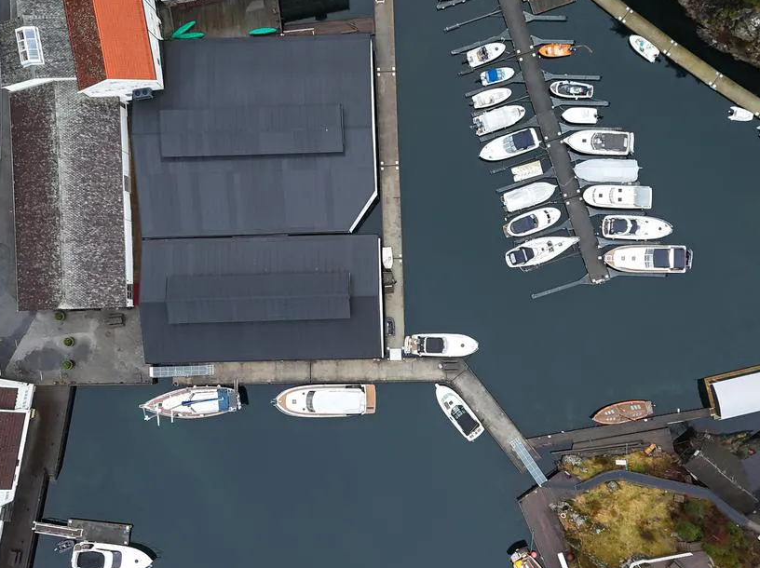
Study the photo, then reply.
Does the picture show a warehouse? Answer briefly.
Yes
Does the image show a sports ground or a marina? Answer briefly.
marina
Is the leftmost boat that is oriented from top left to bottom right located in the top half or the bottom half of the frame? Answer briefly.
bottom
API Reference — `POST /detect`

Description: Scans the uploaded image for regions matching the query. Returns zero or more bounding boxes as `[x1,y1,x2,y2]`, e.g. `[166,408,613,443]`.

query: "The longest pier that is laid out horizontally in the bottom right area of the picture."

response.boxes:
[529,406,712,455]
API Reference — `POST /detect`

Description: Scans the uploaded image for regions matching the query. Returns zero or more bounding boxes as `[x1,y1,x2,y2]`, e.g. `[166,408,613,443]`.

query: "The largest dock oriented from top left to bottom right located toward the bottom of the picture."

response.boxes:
[446,358,542,472]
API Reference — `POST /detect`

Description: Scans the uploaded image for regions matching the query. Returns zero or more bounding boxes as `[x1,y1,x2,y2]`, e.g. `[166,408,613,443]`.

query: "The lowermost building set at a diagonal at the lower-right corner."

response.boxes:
[679,438,758,516]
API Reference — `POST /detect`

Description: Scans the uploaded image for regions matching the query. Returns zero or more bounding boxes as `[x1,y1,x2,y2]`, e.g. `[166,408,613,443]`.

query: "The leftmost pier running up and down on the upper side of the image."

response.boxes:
[376,0,405,351]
